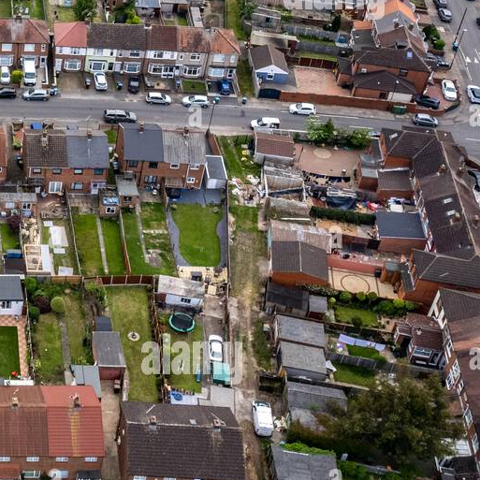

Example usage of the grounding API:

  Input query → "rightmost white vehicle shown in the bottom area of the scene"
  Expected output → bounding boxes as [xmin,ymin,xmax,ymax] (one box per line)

[251,399,277,437]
